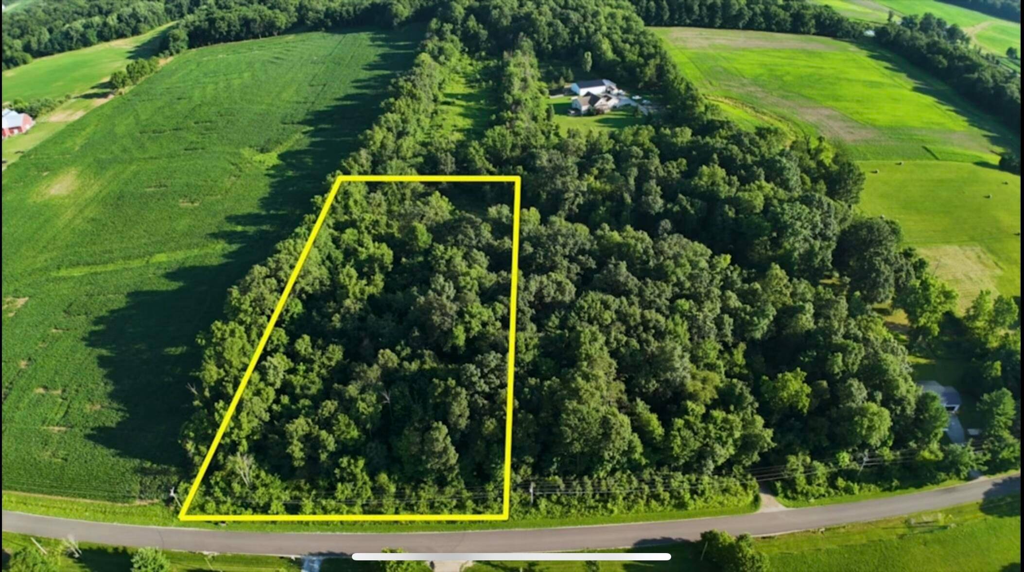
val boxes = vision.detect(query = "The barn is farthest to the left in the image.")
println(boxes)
[0,104,33,132]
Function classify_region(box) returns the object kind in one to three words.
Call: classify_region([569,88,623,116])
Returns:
house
